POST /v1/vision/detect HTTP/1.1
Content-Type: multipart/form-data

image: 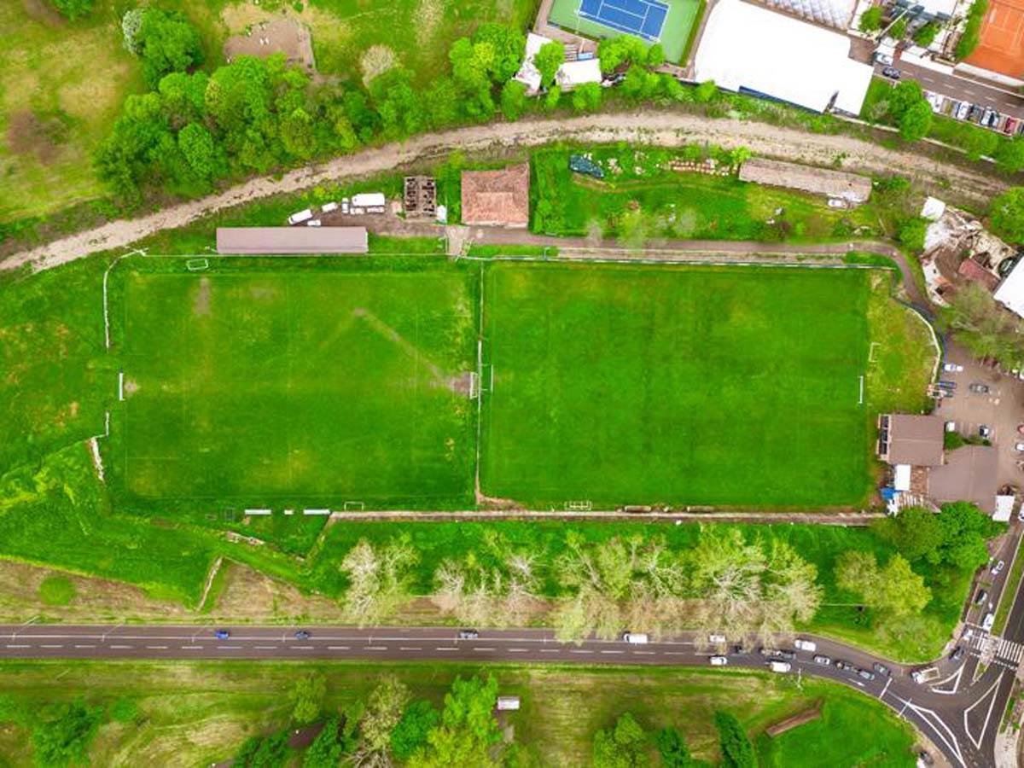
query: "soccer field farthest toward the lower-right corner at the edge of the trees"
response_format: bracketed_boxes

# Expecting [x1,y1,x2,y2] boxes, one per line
[488,267,868,507]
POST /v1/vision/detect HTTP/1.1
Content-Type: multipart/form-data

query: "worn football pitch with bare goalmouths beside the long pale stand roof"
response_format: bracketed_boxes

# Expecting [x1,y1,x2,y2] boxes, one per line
[125,272,477,501]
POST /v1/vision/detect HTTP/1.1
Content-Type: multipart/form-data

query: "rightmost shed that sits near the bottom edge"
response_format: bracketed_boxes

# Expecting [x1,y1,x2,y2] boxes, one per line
[764,701,823,738]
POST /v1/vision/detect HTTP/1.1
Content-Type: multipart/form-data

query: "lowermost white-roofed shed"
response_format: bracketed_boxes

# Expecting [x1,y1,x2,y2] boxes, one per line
[497,694,520,709]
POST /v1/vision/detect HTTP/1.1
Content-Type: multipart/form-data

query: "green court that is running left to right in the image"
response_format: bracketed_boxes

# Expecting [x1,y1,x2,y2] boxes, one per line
[547,0,698,64]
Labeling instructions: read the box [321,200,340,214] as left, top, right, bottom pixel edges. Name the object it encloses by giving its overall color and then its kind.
white vehicle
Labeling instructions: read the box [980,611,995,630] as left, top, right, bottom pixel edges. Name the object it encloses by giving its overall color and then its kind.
white car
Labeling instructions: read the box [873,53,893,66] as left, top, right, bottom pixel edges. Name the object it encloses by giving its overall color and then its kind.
white vehicle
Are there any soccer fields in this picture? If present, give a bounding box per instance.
[125,272,477,501]
[488,267,868,507]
